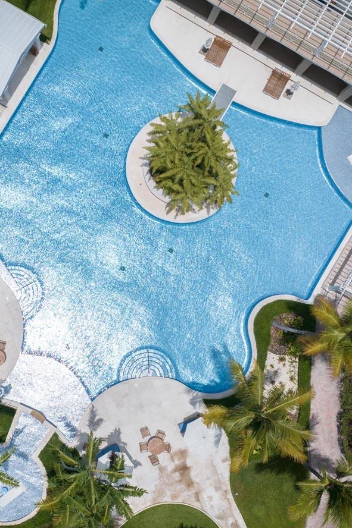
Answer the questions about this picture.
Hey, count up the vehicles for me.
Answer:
0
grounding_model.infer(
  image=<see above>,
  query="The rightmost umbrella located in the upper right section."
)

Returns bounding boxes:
[283,79,303,98]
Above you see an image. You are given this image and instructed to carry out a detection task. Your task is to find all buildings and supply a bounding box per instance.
[0,0,46,105]
[164,0,352,112]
